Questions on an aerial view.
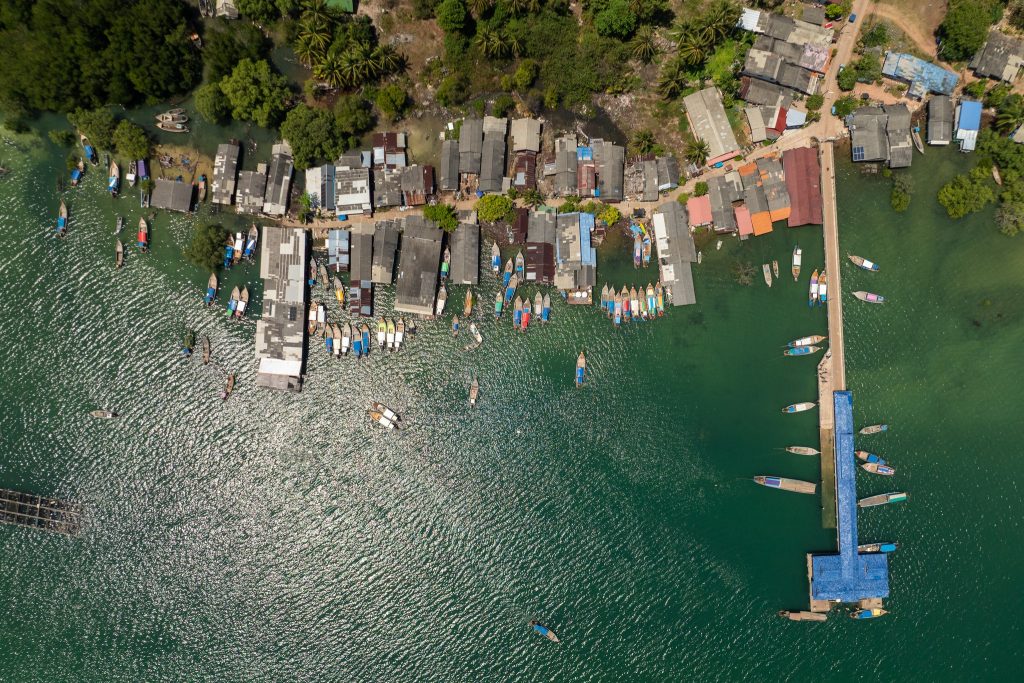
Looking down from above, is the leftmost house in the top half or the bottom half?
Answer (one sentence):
The leftmost house is in the top half of the image.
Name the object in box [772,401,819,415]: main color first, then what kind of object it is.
white boat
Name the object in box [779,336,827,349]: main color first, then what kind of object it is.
white boat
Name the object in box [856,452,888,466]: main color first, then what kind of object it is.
blue boat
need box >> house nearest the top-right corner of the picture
[964,30,1024,85]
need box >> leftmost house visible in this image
[151,179,197,214]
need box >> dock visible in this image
[805,137,887,611]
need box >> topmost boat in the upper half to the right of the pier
[910,122,926,153]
